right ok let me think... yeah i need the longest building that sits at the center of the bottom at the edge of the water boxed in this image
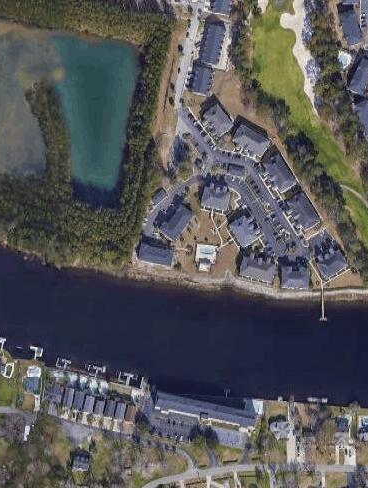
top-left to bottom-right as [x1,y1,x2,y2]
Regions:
[154,391,258,425]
